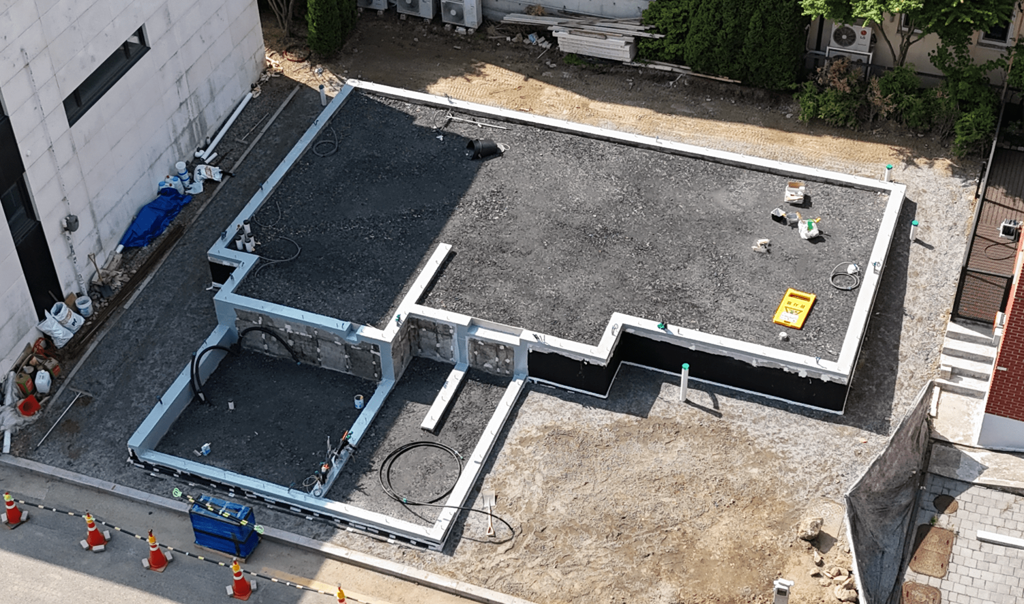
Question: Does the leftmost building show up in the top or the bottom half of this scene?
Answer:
top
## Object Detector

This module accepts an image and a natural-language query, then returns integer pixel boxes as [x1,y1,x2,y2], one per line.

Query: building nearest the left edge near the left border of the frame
[0,0,267,373]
